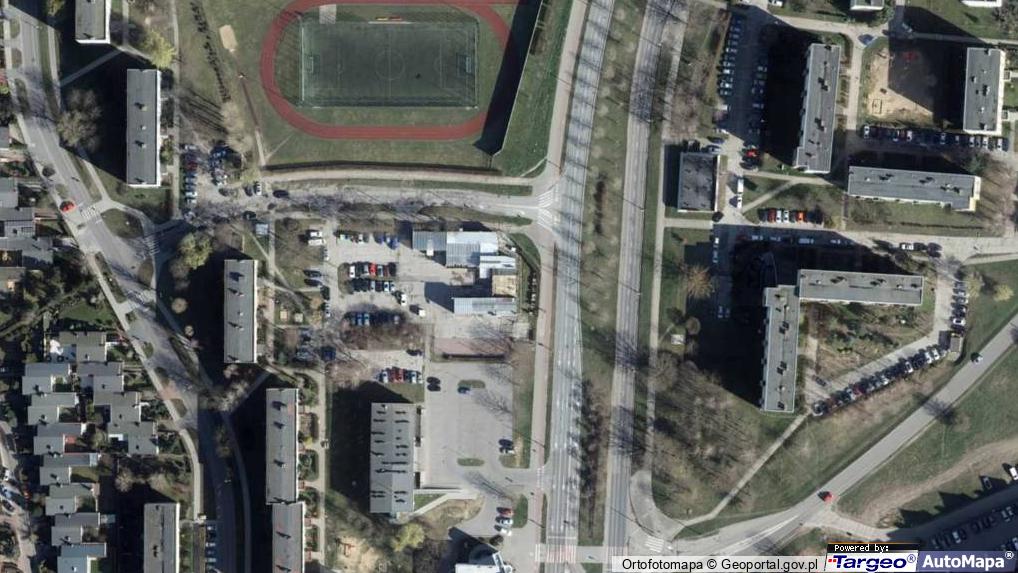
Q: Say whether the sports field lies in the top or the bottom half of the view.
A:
top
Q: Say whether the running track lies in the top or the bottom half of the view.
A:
top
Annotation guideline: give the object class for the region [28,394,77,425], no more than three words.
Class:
house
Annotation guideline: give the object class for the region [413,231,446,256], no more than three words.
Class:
building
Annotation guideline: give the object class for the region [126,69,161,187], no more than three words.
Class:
building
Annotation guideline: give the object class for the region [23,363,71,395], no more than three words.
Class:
house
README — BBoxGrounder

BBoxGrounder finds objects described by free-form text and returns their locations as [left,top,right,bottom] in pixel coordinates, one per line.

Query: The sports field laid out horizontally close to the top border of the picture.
[302,22,476,106]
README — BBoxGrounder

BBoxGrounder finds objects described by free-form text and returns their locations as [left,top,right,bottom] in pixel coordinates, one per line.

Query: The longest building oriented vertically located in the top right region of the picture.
[796,44,844,176]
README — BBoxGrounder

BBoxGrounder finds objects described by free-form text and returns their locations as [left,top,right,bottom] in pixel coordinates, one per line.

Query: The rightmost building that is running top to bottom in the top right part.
[963,48,1004,135]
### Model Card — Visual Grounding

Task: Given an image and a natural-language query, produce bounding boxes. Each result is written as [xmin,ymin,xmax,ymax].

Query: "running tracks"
[260,0,532,140]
